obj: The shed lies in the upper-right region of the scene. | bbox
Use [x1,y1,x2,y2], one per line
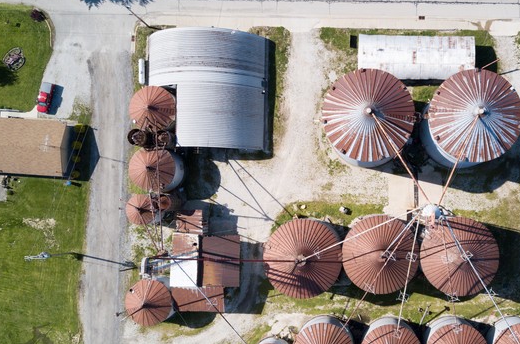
[353,32,478,81]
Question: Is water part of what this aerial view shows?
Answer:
No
